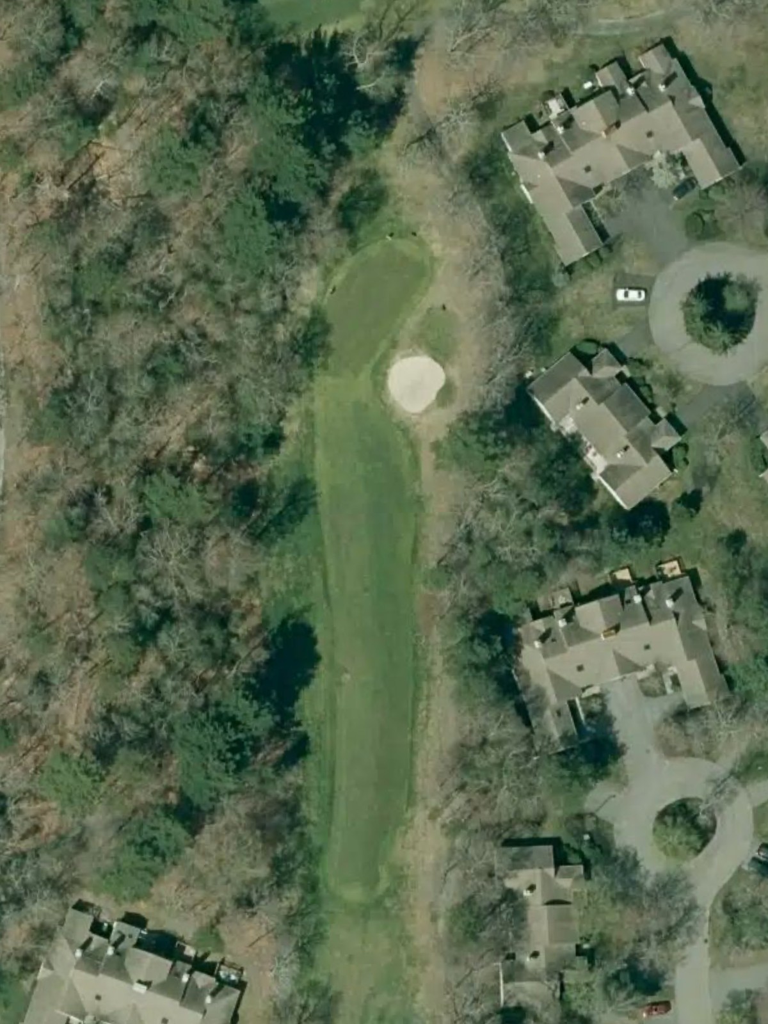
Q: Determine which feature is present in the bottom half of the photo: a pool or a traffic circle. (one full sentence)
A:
Looking in the bottom half of the photo, you will find a traffic circle.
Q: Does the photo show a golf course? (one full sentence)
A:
Yes, the photo shows a golf course.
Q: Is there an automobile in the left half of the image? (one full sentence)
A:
No, no automobile is visible in the left half of the image.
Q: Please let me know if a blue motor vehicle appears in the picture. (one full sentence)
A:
No, there isn't any blue motor vehicle down there.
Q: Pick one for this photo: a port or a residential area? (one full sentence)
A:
What you see here is a residential area.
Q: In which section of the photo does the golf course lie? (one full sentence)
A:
The golf course is located in the center region of the scene.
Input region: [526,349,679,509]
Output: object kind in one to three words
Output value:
house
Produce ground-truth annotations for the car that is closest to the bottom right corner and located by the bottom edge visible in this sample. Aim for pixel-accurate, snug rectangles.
[642,1001,673,1017]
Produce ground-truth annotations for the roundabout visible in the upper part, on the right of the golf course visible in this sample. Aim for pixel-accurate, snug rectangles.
[649,243,768,386]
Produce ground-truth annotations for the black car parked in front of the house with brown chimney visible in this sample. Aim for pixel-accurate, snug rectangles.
[670,176,697,199]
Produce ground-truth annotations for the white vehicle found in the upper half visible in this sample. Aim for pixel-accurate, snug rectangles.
[617,287,645,301]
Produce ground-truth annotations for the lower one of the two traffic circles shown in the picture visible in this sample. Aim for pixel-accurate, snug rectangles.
[585,758,753,912]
